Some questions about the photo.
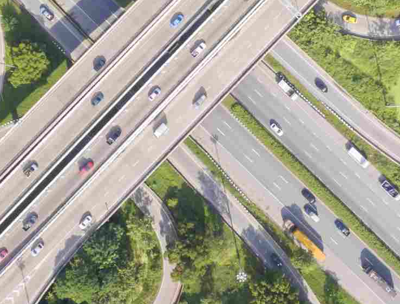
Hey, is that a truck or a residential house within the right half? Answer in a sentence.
Visible within the right half is a truck.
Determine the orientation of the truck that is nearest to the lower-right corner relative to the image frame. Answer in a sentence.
The truck that is nearest to the lower-right corner is laid out diagonally.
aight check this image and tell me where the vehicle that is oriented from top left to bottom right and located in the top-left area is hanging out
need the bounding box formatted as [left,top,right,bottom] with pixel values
[40,5,55,22]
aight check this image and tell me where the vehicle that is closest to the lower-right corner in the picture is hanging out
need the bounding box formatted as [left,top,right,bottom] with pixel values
[359,260,398,299]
